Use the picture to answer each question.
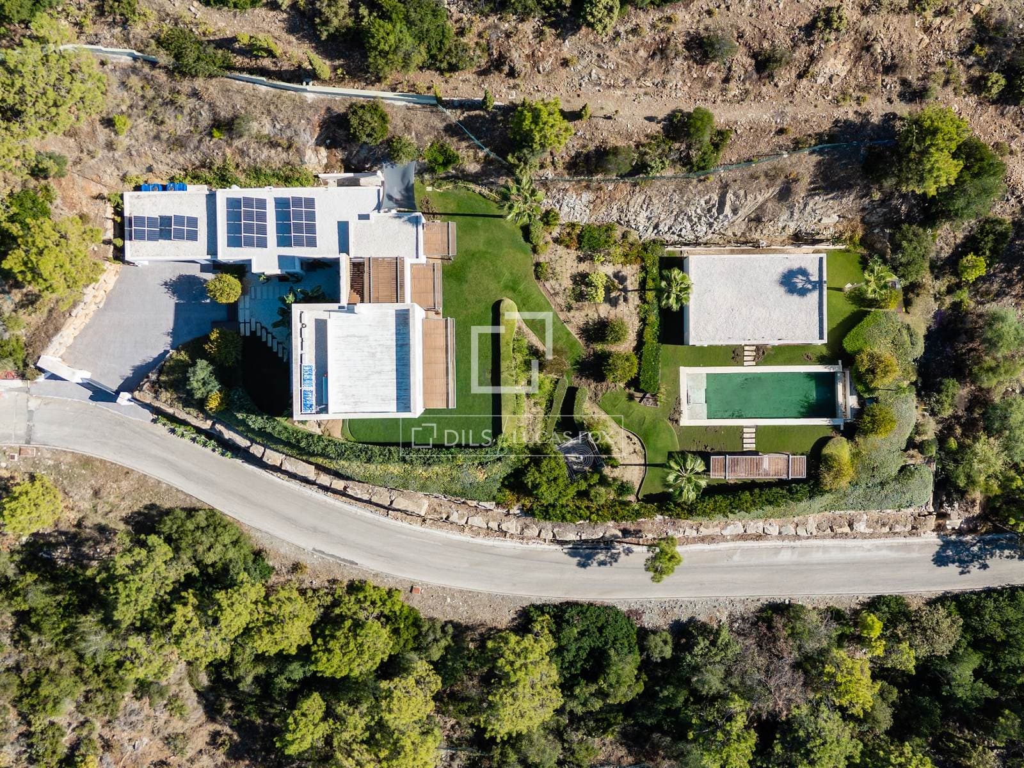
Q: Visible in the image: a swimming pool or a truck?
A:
swimming pool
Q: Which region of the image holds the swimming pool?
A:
right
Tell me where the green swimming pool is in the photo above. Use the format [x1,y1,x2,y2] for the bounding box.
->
[680,360,859,430]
